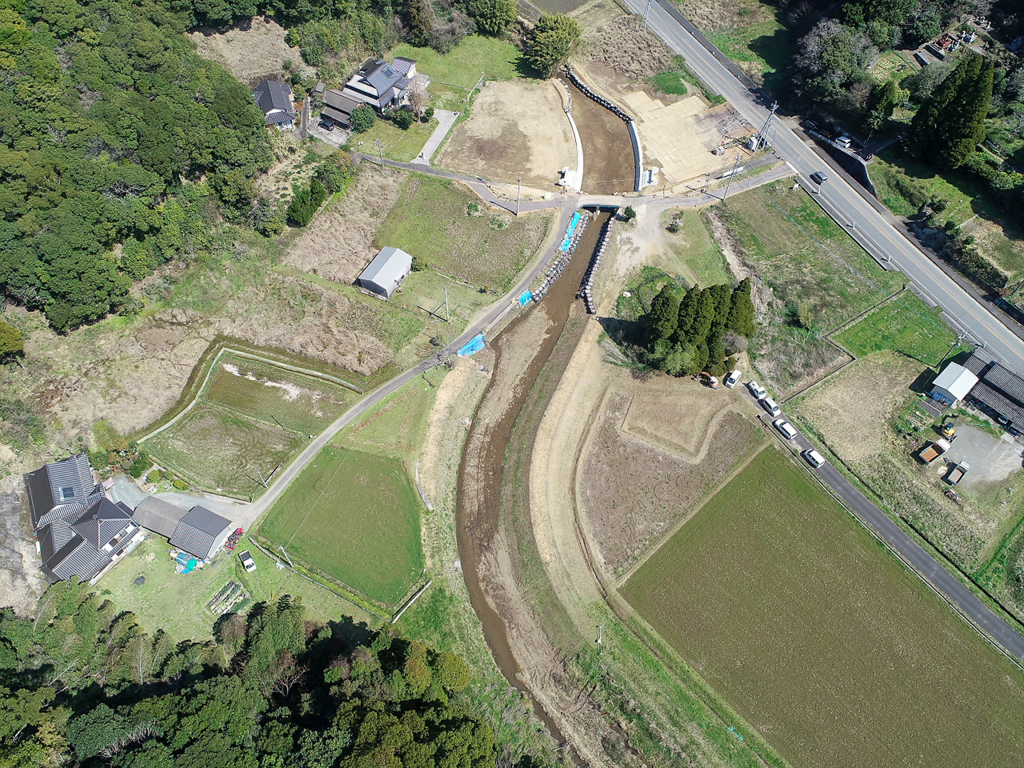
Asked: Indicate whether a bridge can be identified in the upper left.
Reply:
No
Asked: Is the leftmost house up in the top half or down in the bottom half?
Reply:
bottom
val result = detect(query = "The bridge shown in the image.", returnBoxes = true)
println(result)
[577,194,631,218]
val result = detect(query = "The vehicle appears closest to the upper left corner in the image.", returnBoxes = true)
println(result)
[317,120,335,132]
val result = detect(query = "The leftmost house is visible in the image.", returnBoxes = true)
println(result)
[23,451,145,584]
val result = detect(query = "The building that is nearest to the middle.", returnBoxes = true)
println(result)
[358,247,412,299]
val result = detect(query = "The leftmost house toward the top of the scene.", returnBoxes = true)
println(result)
[256,76,297,132]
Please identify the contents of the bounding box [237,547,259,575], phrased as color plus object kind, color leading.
white truck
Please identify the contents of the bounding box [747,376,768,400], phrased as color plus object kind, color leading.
white truck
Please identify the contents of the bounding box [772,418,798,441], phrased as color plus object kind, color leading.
white vehicle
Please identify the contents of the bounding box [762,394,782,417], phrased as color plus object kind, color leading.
white vehicle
